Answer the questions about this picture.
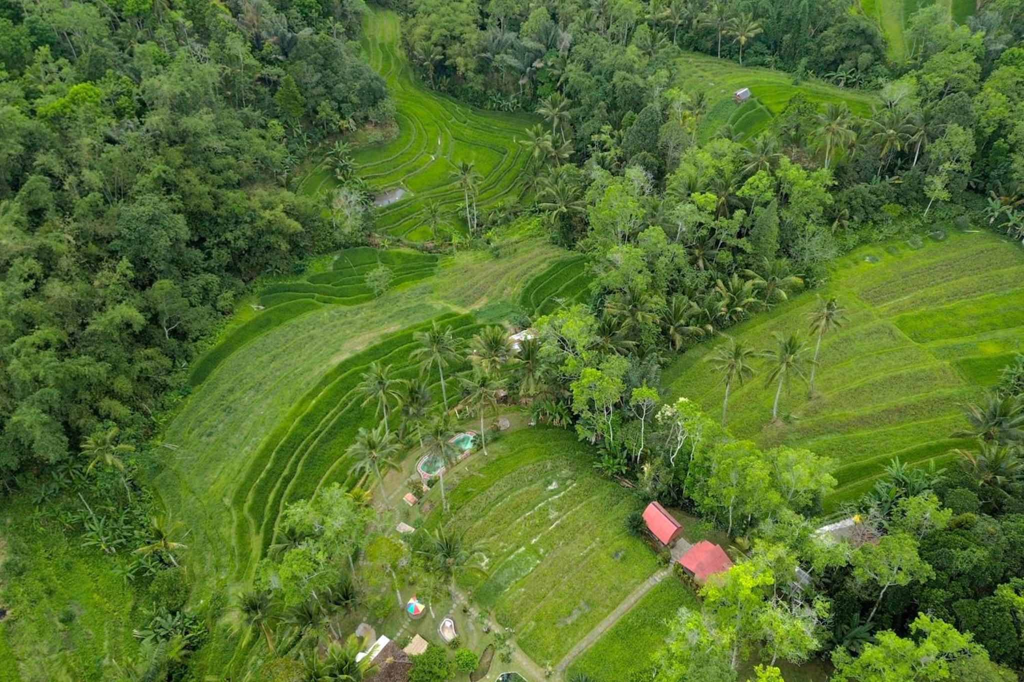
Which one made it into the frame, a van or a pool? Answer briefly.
pool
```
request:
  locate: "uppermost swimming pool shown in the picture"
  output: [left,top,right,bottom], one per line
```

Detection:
[418,432,475,476]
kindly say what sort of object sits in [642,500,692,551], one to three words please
shed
